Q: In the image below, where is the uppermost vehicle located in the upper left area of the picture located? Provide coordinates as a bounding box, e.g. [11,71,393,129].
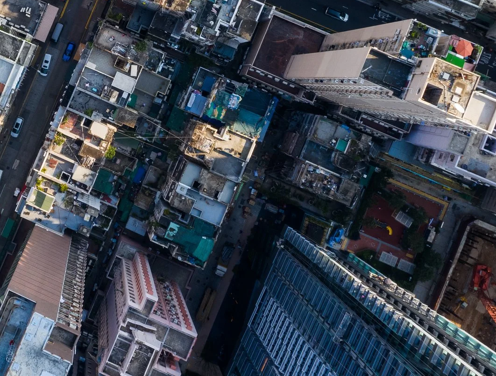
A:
[50,21,65,44]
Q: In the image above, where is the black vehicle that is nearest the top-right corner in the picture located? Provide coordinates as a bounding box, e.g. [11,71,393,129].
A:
[324,8,348,23]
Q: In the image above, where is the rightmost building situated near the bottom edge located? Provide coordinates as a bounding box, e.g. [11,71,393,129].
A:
[231,226,496,376]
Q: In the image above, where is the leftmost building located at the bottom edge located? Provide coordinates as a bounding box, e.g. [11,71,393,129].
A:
[0,226,89,376]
